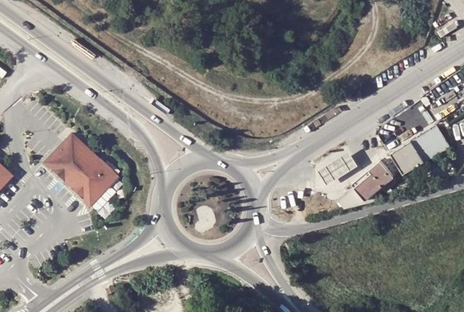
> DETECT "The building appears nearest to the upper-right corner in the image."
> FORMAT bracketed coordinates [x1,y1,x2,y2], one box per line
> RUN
[415,126,450,160]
